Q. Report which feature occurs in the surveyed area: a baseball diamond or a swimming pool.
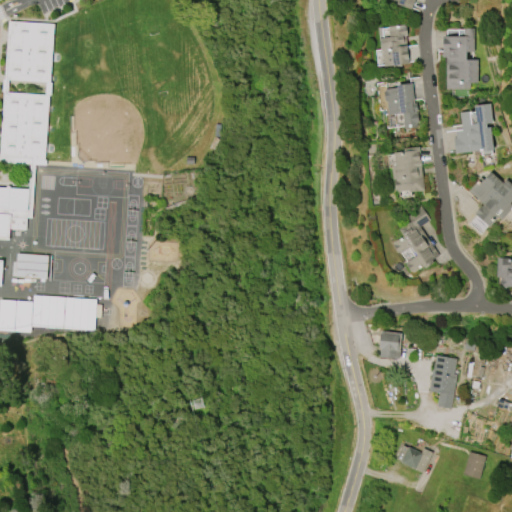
baseball diamond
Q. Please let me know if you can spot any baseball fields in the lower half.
No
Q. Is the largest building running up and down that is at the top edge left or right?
left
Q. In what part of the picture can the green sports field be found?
top left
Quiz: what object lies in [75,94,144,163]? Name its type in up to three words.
baseball field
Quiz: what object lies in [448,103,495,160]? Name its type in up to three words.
house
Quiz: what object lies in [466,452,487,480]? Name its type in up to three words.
barn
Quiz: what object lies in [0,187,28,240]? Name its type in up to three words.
building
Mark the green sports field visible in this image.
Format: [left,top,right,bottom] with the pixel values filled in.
[48,0,223,172]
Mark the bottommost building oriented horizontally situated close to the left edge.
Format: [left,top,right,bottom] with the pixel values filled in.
[0,294,97,334]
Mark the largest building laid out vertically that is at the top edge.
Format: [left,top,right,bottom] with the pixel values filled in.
[0,20,56,166]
